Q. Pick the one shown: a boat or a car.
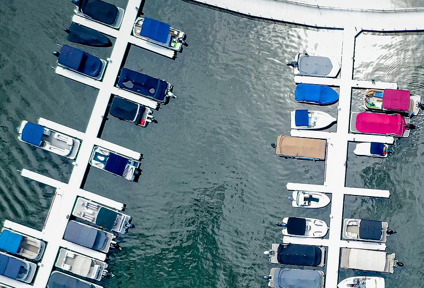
boat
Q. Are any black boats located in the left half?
Yes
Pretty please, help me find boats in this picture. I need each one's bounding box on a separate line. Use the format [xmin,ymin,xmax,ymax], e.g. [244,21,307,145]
[269,135,328,160]
[277,217,329,237]
[70,0,129,28]
[14,122,80,162]
[261,243,328,267]
[112,67,177,104]
[295,84,339,105]
[108,96,157,127]
[346,111,415,137]
[353,142,397,158]
[289,55,340,77]
[55,247,111,280]
[261,267,328,288]
[339,249,403,273]
[64,221,120,252]
[290,110,337,129]
[129,16,190,52]
[48,272,102,288]
[338,218,395,241]
[360,88,424,115]
[283,191,329,208]
[0,228,46,260]
[63,23,113,49]
[88,147,147,180]
[337,277,388,288]
[72,196,133,235]
[50,45,108,80]
[0,251,37,281]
